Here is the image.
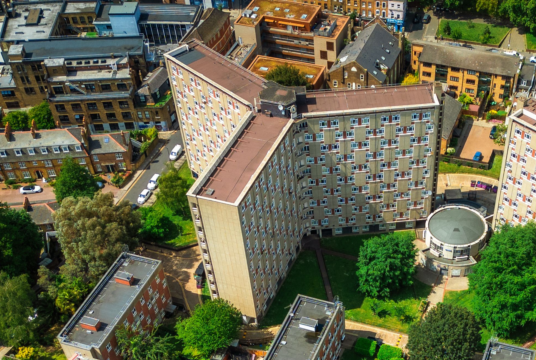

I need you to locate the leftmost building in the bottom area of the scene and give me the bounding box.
[14,196,63,242]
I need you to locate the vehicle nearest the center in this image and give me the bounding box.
[168,142,180,160]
